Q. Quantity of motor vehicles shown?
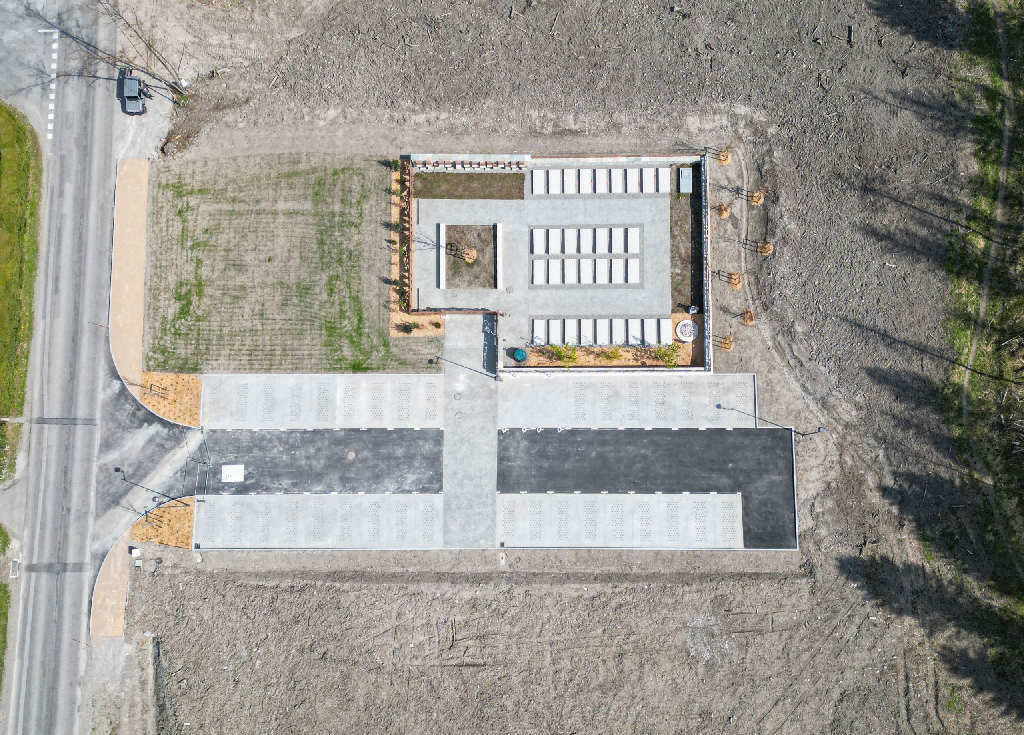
one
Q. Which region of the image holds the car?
top left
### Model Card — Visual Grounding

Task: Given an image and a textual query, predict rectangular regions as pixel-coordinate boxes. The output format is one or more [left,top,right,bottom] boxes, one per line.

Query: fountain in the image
[677,320,698,341]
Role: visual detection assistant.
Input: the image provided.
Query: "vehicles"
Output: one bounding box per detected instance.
[123,66,152,114]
